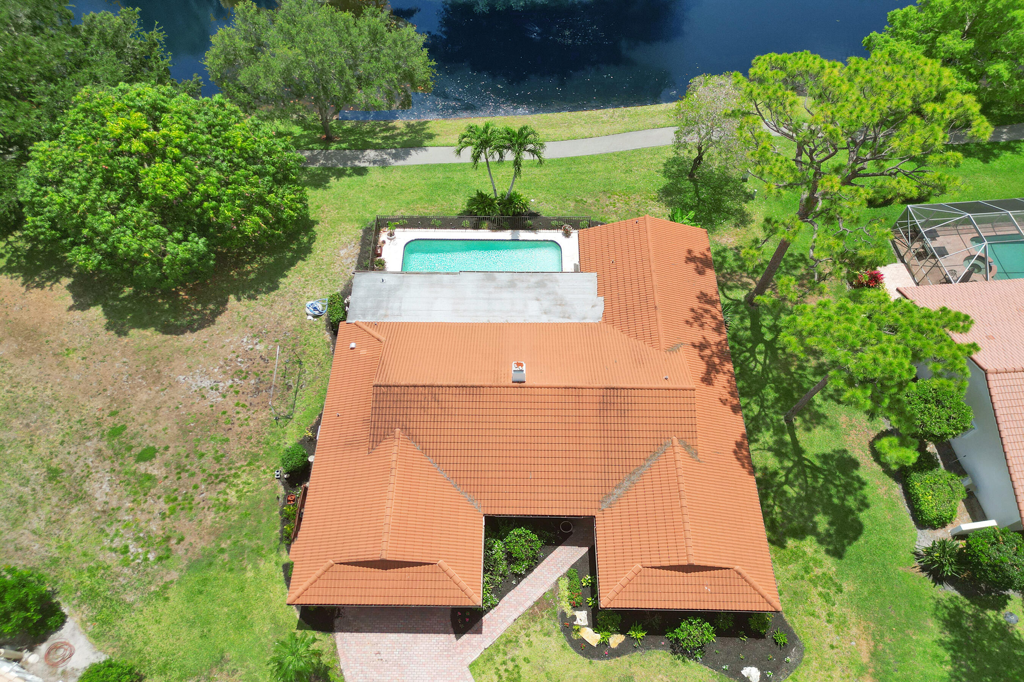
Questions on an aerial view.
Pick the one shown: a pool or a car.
pool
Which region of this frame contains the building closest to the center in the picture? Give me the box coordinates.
[286,211,782,614]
